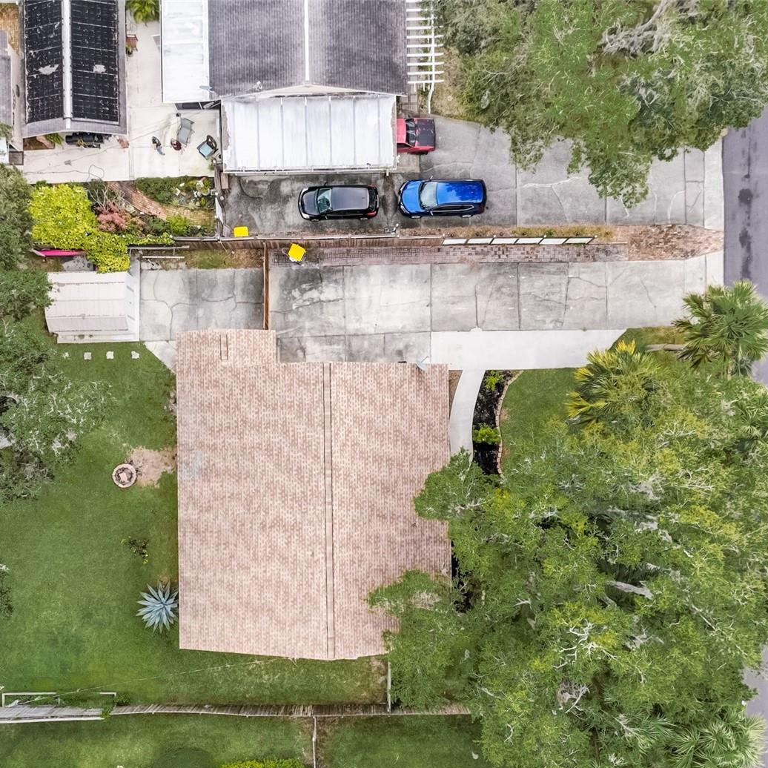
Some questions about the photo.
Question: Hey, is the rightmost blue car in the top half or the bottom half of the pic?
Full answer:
The rightmost blue car is in the top half of the image.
